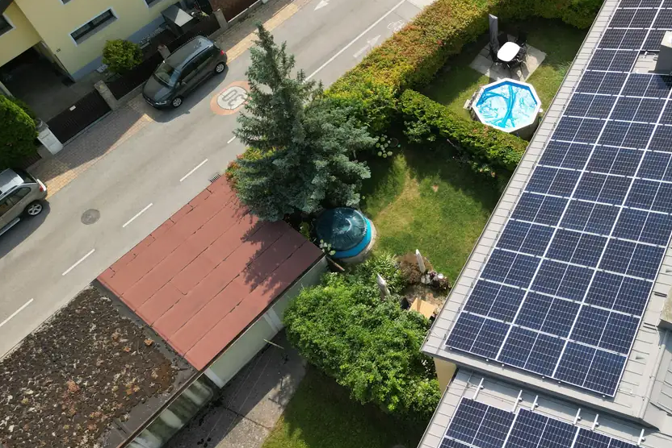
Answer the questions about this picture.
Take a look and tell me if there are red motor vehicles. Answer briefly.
No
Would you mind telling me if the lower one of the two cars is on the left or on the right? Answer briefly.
left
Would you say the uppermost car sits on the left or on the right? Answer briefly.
left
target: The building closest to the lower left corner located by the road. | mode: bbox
[0,277,218,448]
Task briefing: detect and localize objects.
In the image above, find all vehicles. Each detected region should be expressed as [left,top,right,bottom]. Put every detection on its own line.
[137,37,229,112]
[0,165,46,233]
